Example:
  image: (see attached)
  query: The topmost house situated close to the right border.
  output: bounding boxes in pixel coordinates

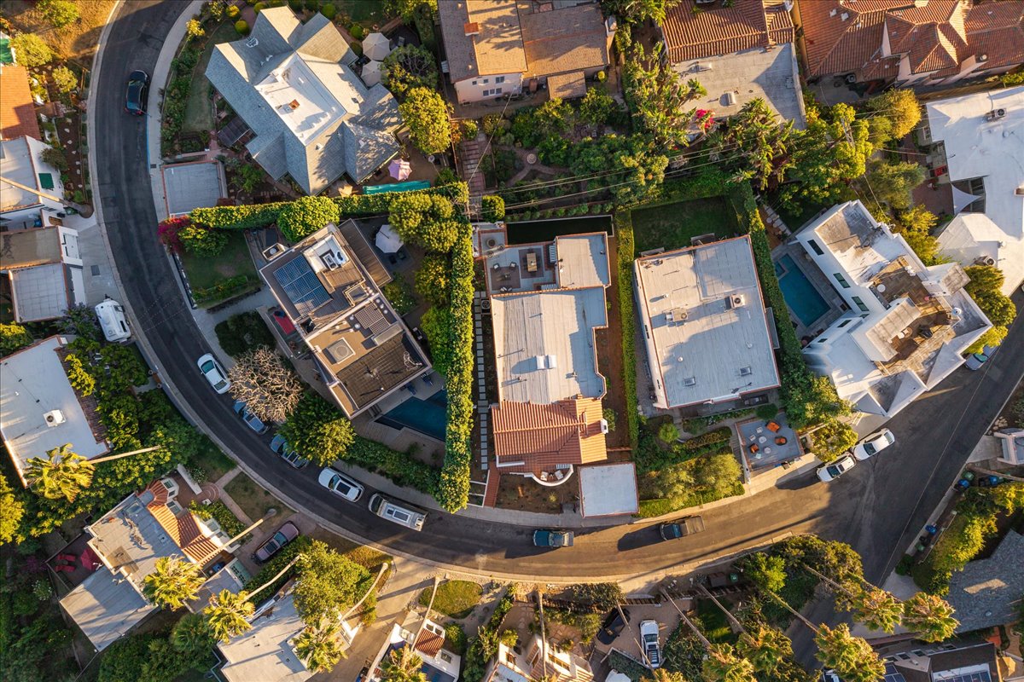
[799,0,1024,95]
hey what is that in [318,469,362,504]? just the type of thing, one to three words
car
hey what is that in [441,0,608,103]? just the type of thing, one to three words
house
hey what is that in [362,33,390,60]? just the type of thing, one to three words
umbrella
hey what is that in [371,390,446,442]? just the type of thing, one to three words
swimming pool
